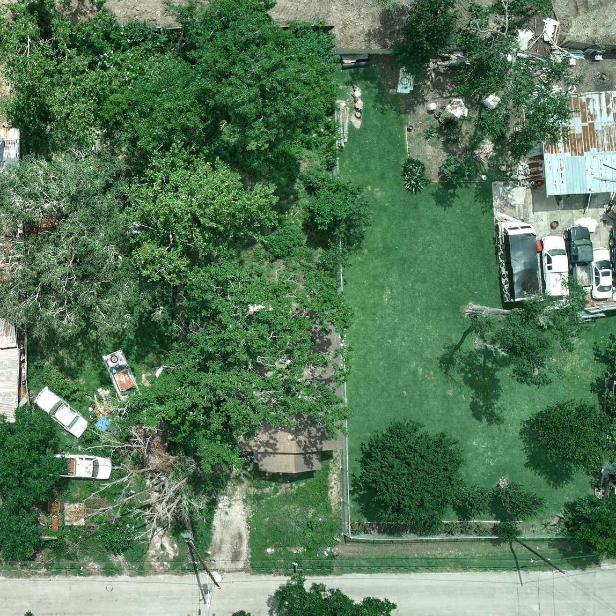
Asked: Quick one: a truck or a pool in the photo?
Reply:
truck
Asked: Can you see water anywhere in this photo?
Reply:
No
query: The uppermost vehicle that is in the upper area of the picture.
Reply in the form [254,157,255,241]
[598,194,616,237]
